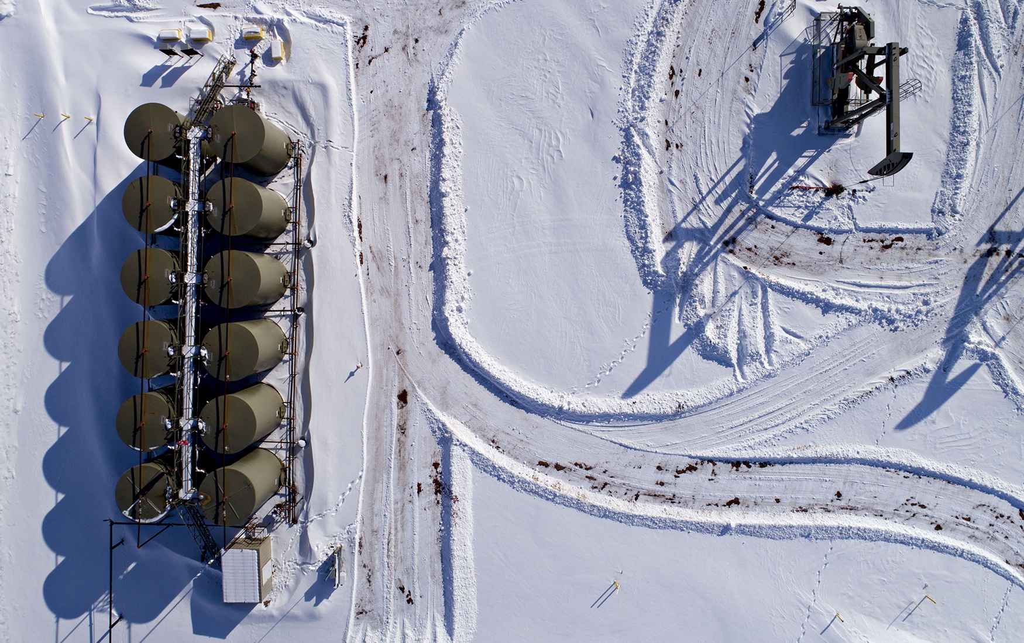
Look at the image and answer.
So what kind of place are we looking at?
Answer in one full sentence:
This image shows an industrial area.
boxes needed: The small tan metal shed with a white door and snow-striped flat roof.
[222,538,272,604]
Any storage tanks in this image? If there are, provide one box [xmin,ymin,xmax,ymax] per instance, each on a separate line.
[205,178,296,243]
[203,251,295,310]
[120,249,185,308]
[123,101,217,175]
[200,384,291,455]
[198,448,292,526]
[202,320,293,383]
[118,318,183,380]
[117,382,181,452]
[121,175,187,240]
[207,104,300,177]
